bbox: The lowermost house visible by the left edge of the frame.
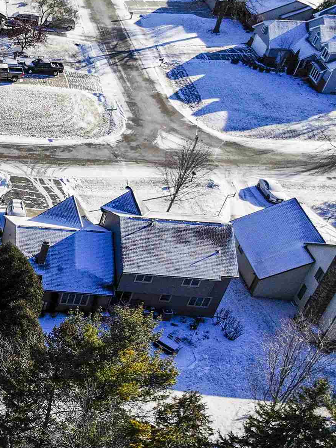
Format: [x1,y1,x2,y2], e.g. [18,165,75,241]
[2,179,126,313]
